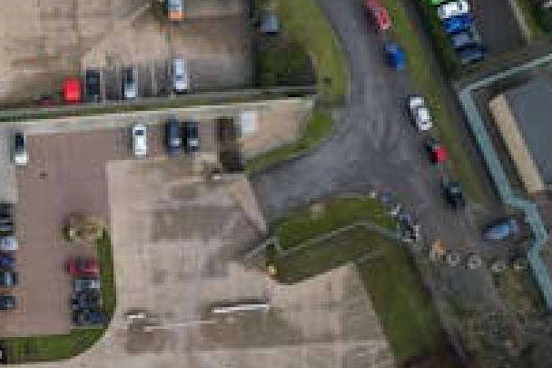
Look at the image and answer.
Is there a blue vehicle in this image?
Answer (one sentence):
Yes, I can see a blue vehicle in this picture.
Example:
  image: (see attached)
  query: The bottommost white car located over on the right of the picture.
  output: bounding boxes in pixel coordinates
[406,97,432,131]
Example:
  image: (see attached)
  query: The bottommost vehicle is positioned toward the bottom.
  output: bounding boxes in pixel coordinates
[73,311,105,325]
